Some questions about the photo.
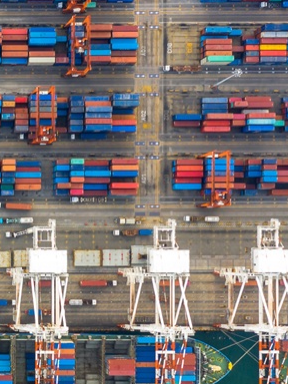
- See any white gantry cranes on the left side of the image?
Yes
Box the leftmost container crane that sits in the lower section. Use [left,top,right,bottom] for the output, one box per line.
[4,216,66,384]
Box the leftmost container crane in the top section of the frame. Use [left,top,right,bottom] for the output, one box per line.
[25,83,56,144]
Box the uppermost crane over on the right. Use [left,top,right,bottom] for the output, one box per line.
[194,150,233,208]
